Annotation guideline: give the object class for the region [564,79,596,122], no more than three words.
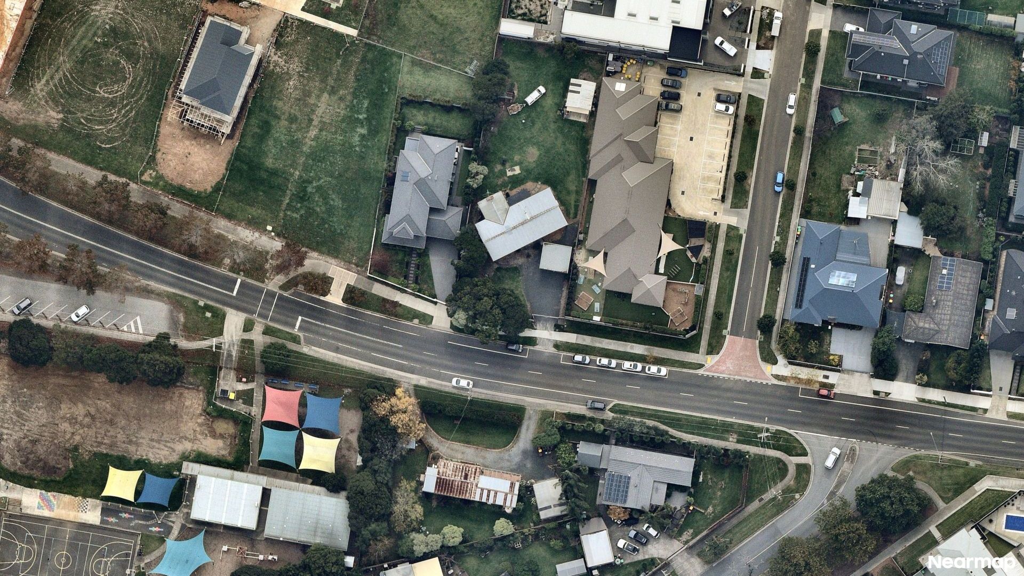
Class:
shed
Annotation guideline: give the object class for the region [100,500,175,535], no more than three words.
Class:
sports court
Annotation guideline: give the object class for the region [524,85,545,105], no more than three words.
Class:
car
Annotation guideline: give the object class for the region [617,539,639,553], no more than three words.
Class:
vehicle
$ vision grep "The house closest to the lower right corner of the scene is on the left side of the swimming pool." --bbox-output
[913,528,1005,576]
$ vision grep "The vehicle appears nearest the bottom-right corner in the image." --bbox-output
[824,446,841,469]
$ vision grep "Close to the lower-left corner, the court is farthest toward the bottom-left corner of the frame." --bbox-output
[0,510,140,576]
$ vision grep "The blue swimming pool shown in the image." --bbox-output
[1002,512,1024,535]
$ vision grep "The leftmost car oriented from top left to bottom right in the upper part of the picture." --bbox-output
[715,37,736,56]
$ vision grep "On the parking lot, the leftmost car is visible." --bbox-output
[12,297,33,314]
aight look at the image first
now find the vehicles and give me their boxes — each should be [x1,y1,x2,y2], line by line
[12,297,33,314]
[715,37,736,56]
[770,13,781,36]
[629,529,649,545]
[595,358,617,368]
[503,342,526,353]
[667,67,687,77]
[642,523,660,539]
[785,92,796,115]
[451,378,473,389]
[660,102,681,112]
[645,365,667,376]
[71,305,90,322]
[714,104,733,114]
[844,23,863,32]
[716,94,736,103]
[824,446,841,469]
[661,78,682,89]
[585,400,606,411]
[722,0,743,19]
[774,172,784,192]
[524,85,545,105]
[571,355,591,365]
[818,389,834,398]
[617,539,639,553]
[661,91,680,101]
[621,362,643,372]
